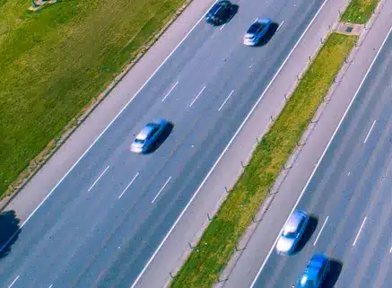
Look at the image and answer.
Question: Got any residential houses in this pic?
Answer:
No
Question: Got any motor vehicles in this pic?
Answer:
Yes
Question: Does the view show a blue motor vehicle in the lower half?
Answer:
Yes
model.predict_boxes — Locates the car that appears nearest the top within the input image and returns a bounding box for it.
[205,2,235,26]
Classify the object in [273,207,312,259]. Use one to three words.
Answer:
car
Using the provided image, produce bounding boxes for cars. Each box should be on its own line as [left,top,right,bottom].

[205,2,235,26]
[297,250,333,288]
[273,207,312,259]
[128,120,169,158]
[243,20,274,48]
